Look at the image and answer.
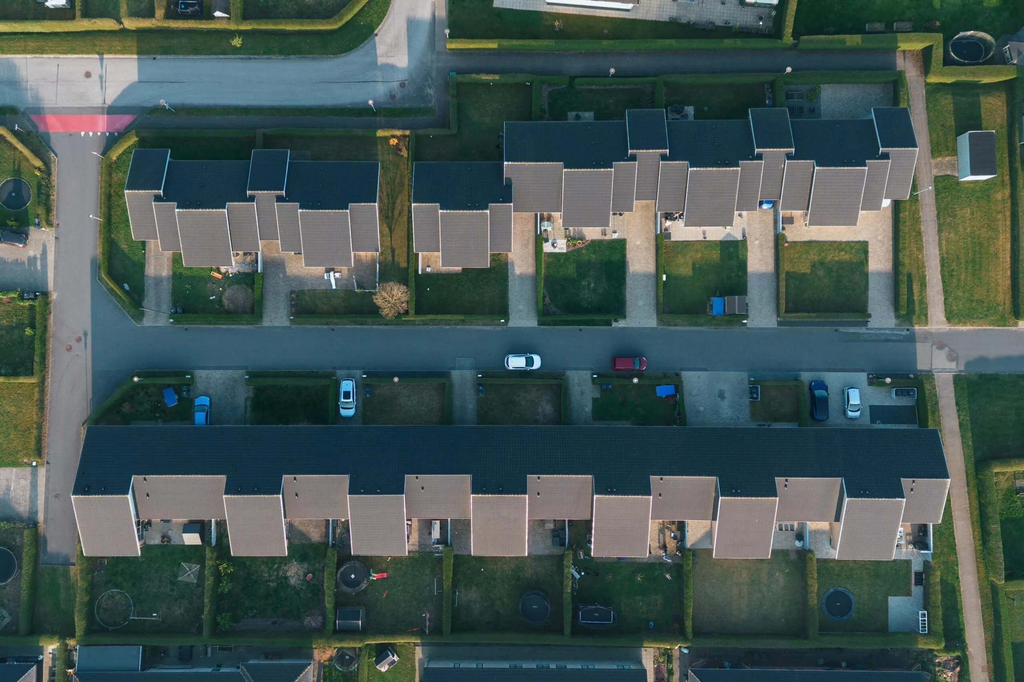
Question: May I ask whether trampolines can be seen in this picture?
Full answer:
Yes, a trampoline can be made out from above.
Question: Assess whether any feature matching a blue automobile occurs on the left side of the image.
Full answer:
Yes, a blue automobile appears on the left side of the image.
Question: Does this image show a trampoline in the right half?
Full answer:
Yes, in the right half there is a trampoline.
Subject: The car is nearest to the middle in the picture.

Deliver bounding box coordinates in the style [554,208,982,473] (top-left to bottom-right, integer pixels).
[504,353,541,371]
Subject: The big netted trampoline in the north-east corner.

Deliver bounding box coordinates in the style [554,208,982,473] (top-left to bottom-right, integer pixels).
[947,28,993,67]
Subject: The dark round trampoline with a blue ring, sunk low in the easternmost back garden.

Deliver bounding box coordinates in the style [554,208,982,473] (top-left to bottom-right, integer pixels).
[822,588,855,622]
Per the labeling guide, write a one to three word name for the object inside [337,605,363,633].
shed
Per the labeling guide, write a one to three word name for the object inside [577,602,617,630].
trampoline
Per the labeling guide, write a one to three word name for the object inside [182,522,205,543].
shed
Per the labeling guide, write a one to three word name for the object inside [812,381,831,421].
car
